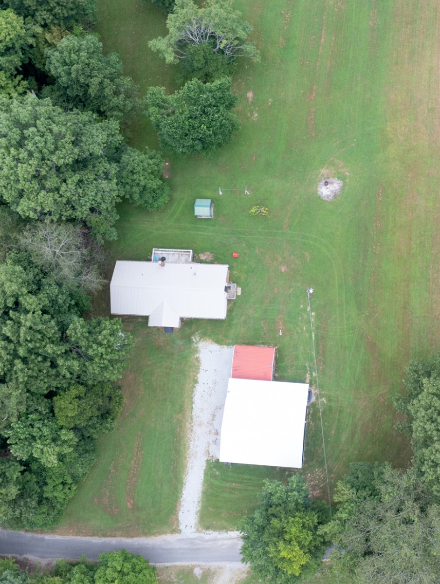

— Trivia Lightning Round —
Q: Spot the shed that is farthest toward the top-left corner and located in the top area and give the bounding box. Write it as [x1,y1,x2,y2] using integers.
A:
[194,198,213,218]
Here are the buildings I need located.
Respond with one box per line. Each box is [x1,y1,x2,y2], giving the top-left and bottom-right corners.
[194,198,213,218]
[221,378,309,468]
[110,248,237,333]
